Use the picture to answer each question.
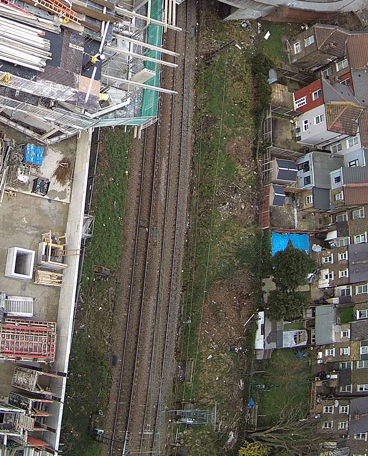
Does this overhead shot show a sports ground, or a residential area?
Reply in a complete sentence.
The area seen from above is a residential area.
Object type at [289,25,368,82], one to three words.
house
